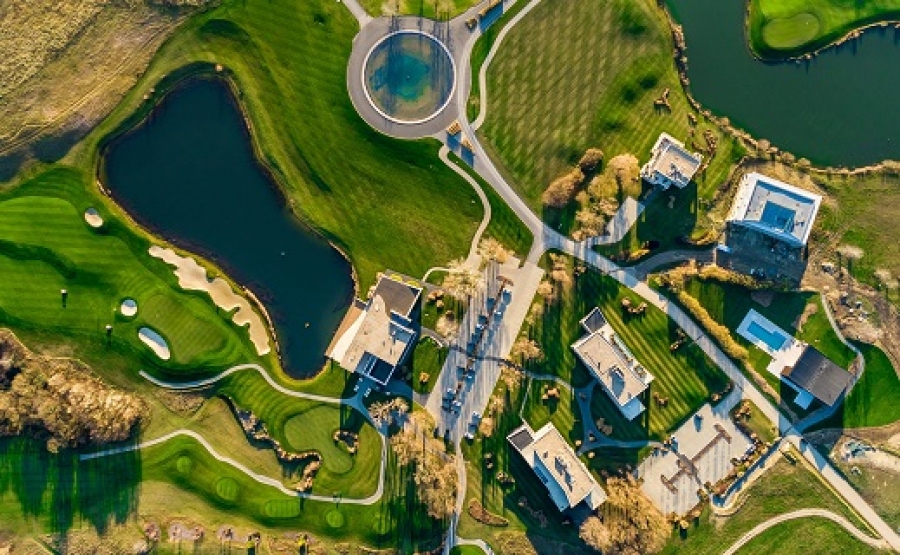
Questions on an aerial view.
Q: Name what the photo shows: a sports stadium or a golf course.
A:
golf course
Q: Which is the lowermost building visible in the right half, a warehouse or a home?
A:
home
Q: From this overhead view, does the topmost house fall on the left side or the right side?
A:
right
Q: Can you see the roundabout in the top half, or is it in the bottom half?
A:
top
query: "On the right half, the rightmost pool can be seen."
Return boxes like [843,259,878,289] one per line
[737,310,810,380]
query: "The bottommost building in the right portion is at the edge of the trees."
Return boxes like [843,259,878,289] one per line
[506,418,606,512]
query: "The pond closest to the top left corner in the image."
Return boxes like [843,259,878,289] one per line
[107,77,356,378]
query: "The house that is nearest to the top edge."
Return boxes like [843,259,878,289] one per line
[639,133,704,191]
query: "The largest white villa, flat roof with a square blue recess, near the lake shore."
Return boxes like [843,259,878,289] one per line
[730,172,821,250]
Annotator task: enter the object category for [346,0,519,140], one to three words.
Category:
roundabout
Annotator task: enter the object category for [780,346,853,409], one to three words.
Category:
house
